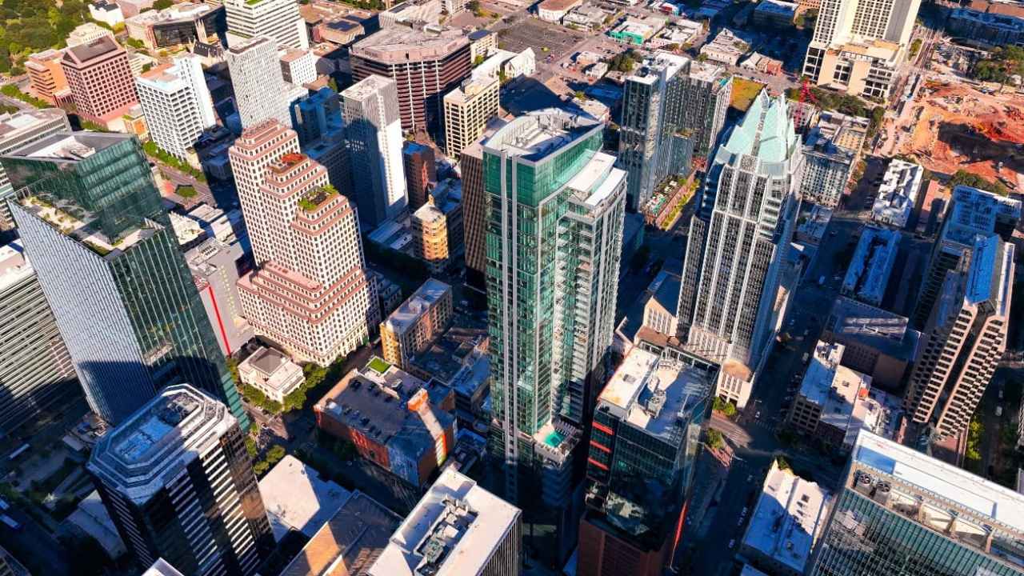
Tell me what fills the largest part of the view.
buildings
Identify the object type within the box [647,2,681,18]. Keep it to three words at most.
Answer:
building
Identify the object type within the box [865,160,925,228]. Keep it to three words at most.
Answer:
building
